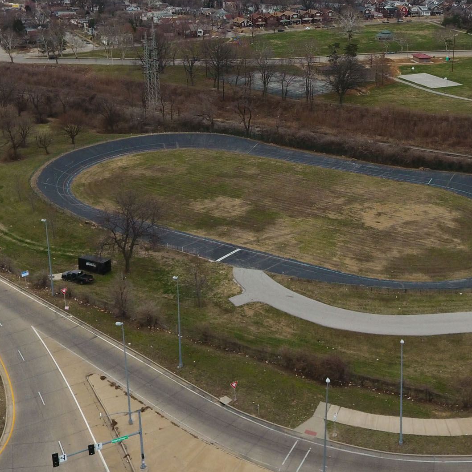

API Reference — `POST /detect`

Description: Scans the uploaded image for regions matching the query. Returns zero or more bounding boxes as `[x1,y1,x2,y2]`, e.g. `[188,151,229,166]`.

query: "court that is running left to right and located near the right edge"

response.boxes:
[398,73,461,88]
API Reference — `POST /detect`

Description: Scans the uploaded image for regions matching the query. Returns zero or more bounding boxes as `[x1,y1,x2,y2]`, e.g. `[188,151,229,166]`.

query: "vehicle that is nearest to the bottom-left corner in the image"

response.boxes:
[61,270,95,286]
